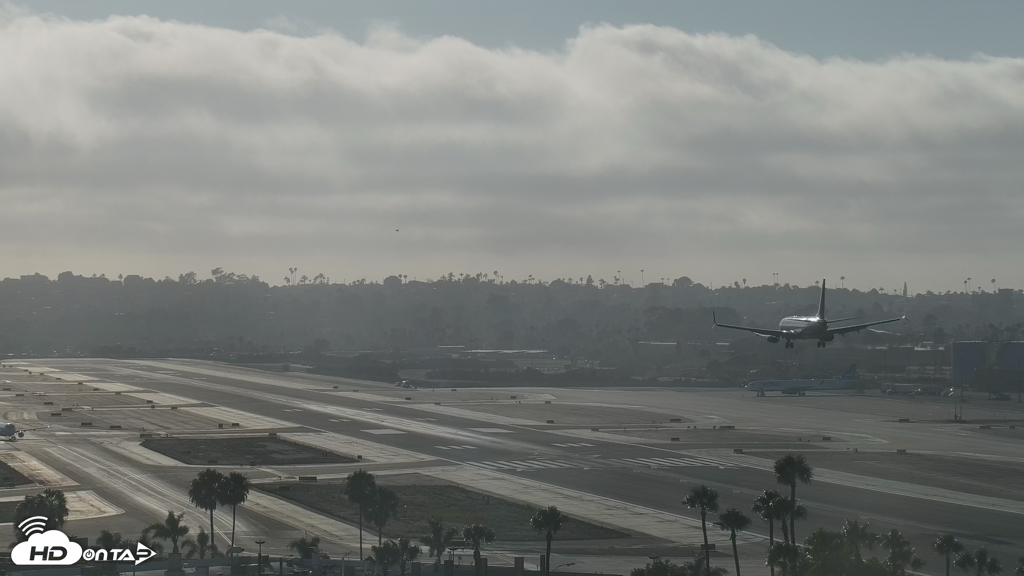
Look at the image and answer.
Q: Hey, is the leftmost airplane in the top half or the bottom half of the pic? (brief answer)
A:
bottom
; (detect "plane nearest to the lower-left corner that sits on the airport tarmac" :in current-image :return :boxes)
[0,418,44,440]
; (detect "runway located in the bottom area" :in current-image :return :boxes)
[33,358,1024,576]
